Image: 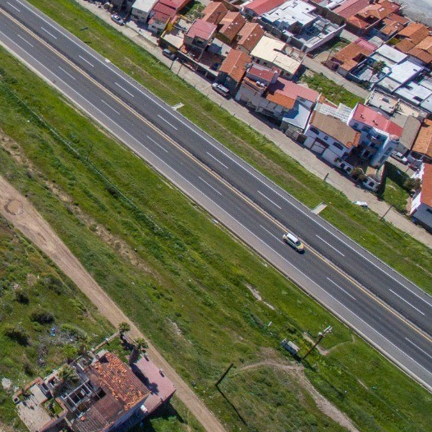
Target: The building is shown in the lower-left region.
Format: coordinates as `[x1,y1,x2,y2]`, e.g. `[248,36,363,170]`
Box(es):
[9,332,175,432]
